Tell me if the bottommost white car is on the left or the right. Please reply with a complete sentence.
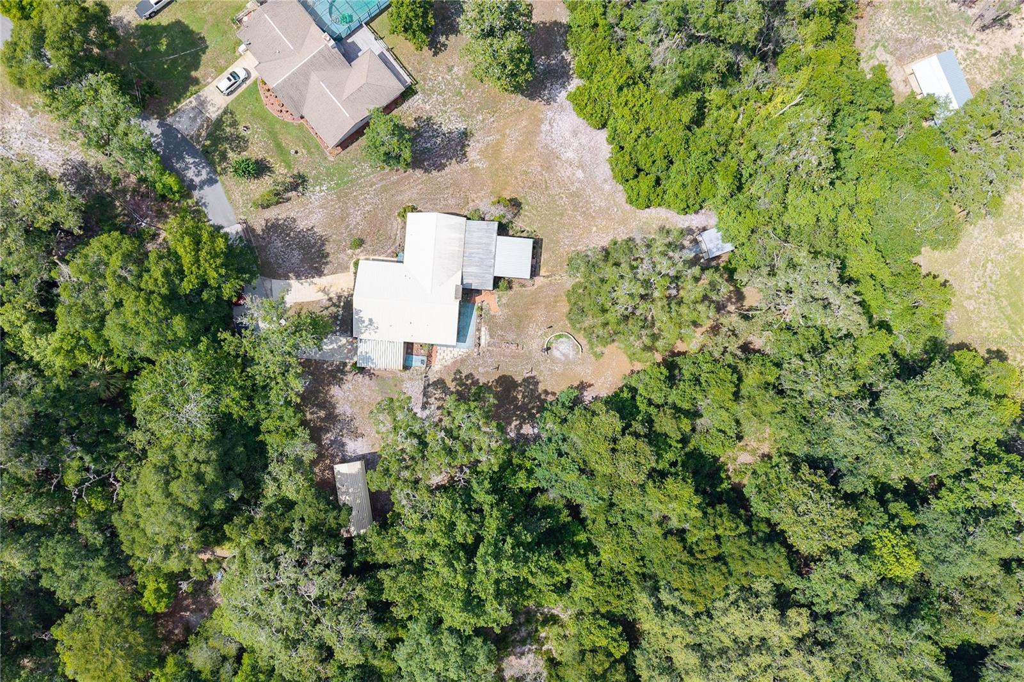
You can find the bottommost white car on the left side of the picture.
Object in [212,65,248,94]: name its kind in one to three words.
car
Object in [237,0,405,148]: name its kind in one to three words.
house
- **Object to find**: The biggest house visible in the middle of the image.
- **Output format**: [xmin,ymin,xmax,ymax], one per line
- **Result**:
[353,213,466,346]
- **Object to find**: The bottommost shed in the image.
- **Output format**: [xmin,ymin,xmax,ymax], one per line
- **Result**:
[334,458,376,536]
